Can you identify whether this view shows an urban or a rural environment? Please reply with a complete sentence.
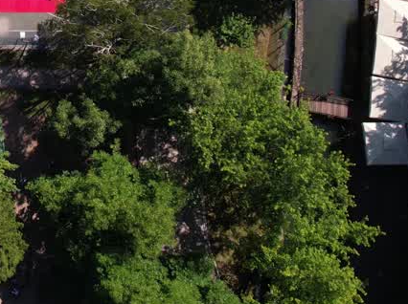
It looks rural.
